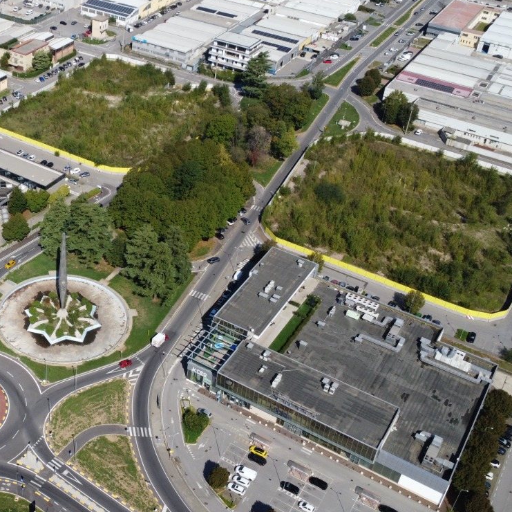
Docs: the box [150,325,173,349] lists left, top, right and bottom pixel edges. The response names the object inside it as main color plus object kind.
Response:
white truck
